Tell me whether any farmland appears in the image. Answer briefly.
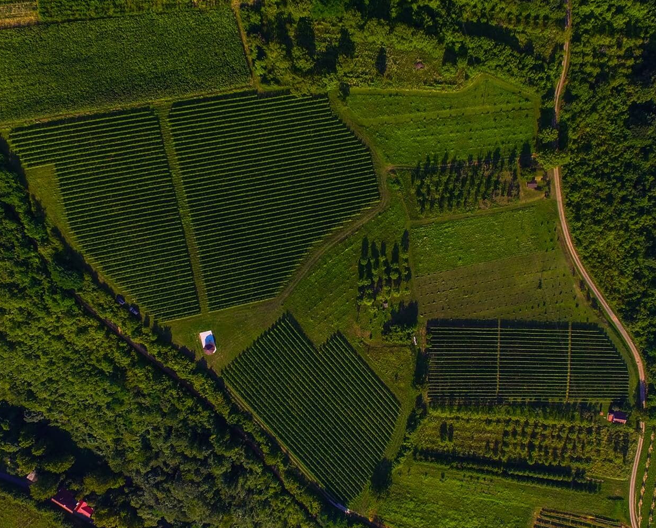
Yes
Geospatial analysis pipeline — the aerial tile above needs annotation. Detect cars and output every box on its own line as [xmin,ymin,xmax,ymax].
[117,297,126,305]
[129,306,138,314]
